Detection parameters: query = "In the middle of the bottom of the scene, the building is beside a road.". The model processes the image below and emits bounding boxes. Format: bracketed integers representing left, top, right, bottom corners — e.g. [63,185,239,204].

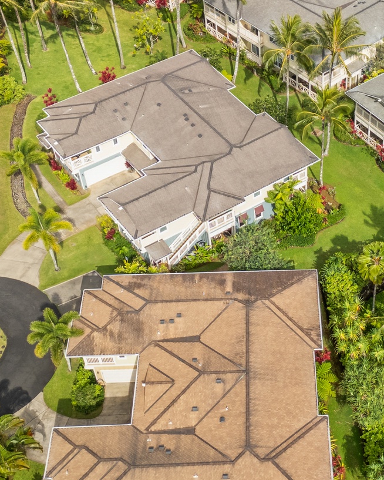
[43,269,334,480]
